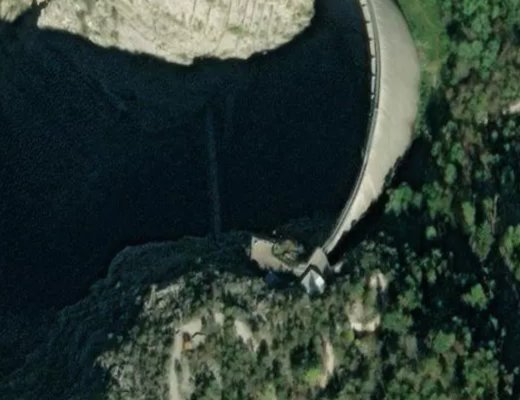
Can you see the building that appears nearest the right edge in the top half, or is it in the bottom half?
bottom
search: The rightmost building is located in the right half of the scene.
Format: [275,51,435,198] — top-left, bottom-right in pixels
[301,270,325,294]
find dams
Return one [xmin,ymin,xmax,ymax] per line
[321,0,419,255]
